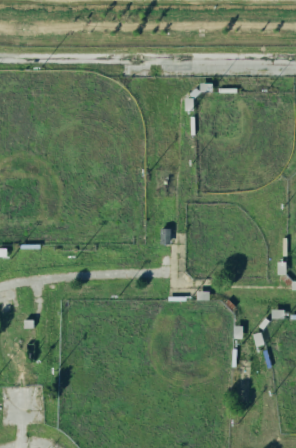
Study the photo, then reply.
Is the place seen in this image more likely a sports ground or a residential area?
sports ground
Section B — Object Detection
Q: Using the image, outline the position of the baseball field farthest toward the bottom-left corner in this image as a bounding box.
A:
[60,299,235,448]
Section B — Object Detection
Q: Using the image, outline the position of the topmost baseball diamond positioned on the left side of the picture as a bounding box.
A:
[0,70,146,244]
